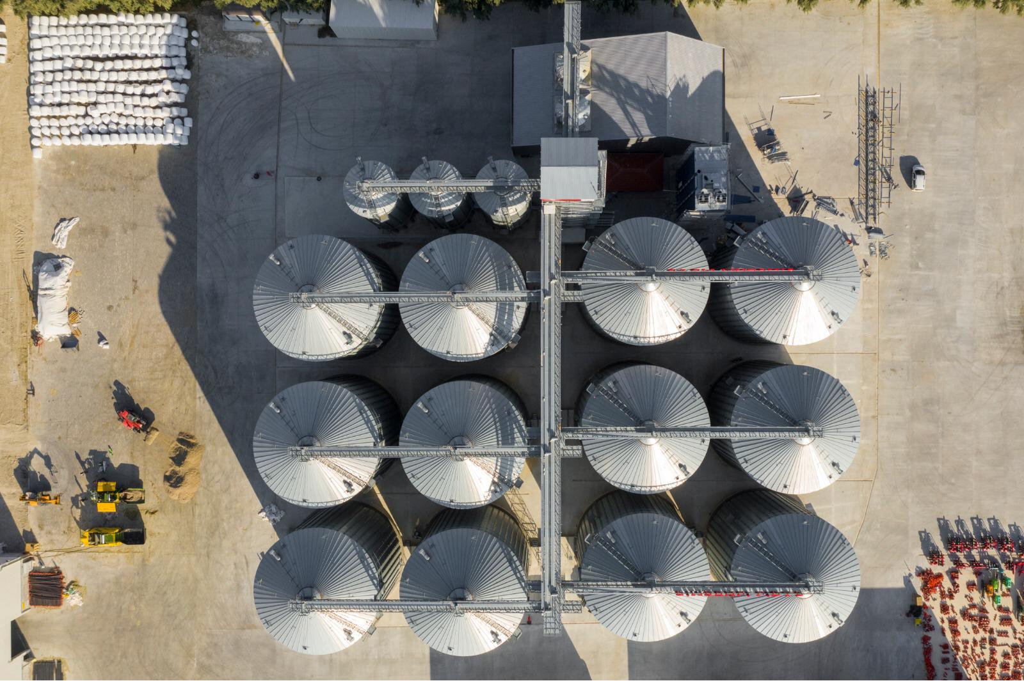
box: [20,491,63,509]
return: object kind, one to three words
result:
work vehicle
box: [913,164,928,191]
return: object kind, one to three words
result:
car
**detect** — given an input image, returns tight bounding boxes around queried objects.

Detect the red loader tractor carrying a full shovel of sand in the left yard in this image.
[113,407,159,444]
